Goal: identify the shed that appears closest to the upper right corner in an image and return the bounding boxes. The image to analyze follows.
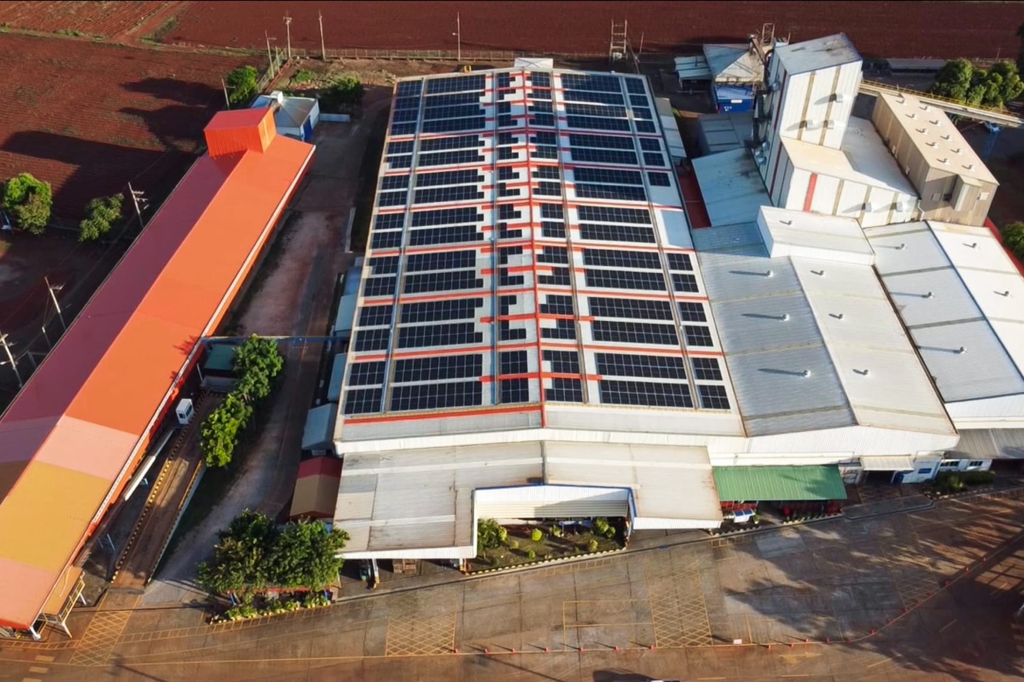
[886,57,947,81]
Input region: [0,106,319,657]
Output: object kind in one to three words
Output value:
shed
